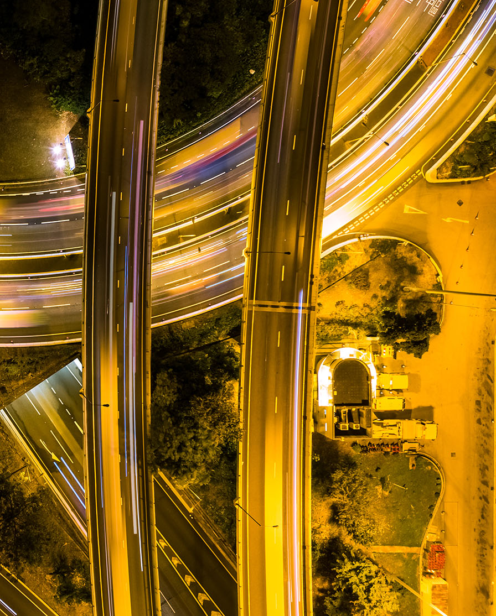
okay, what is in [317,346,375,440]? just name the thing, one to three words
building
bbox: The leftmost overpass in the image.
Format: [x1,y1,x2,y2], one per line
[81,0,170,616]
